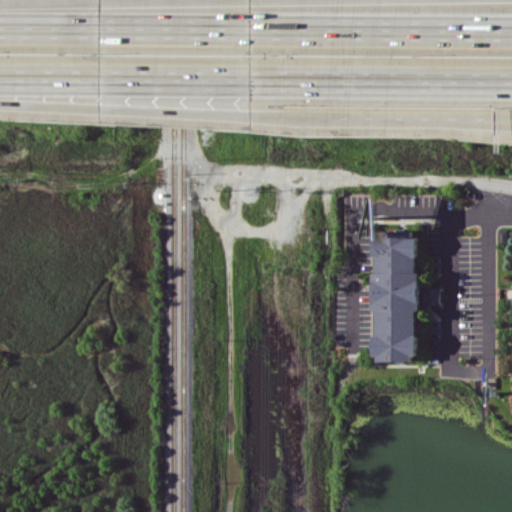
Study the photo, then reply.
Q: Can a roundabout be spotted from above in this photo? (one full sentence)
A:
No, there appears to be no roundabout in this shot.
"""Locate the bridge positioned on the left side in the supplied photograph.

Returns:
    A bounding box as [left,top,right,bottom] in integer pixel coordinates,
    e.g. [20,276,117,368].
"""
[98,0,248,134]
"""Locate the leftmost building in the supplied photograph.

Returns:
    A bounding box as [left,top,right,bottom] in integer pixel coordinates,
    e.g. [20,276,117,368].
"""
[368,232,420,362]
